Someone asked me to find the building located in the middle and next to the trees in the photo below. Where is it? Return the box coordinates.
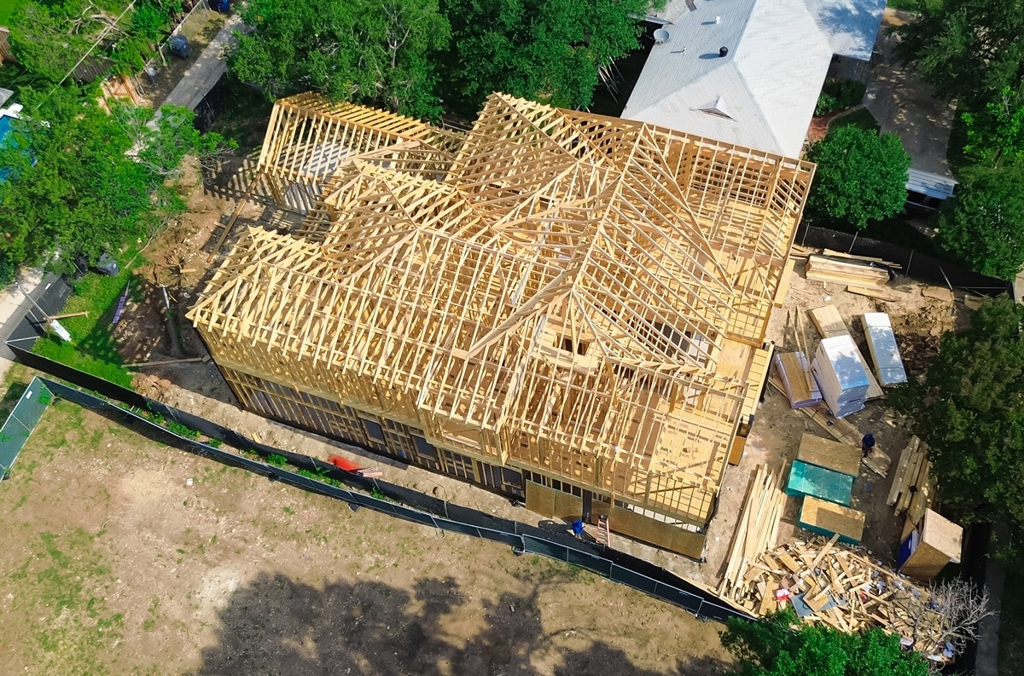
[185,87,819,566]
